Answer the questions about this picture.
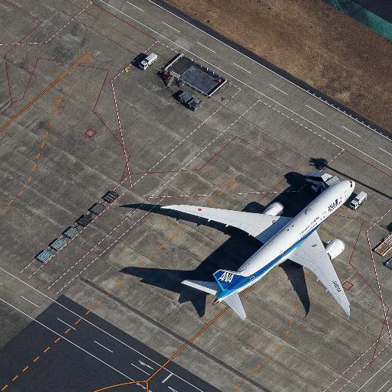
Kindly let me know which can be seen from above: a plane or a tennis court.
plane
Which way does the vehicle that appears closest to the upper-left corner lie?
diagonally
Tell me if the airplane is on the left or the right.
right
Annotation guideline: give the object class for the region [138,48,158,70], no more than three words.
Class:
vehicle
